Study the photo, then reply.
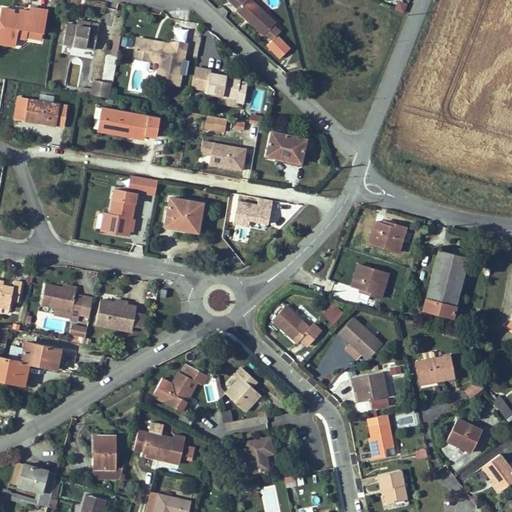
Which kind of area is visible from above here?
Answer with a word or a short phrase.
residential area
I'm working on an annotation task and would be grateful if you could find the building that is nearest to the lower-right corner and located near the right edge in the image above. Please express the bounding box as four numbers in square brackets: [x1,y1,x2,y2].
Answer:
[481,456,512,494]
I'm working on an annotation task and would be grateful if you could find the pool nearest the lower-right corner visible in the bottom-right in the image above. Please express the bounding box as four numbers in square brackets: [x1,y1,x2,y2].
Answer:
[395,412,418,428]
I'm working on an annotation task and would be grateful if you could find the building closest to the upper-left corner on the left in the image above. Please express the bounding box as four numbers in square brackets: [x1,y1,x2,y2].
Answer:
[0,6,46,48]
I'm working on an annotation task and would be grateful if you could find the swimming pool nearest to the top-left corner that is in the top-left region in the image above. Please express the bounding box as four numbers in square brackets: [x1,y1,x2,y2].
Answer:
[66,57,83,89]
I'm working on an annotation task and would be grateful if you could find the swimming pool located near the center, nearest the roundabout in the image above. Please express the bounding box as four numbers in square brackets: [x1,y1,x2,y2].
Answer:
[233,227,250,244]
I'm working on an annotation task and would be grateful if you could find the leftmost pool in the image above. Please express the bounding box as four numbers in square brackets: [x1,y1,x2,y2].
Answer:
[36,311,72,334]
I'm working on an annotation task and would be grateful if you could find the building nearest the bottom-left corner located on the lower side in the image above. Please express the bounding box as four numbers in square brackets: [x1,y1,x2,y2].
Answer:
[9,463,51,510]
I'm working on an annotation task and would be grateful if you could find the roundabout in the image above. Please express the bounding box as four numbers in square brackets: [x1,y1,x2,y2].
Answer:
[193,270,236,323]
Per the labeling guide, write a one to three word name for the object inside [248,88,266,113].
swimming pool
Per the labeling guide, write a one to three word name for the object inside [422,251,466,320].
barn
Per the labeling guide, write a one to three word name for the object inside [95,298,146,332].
house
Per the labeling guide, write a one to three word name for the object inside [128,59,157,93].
swimming pool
